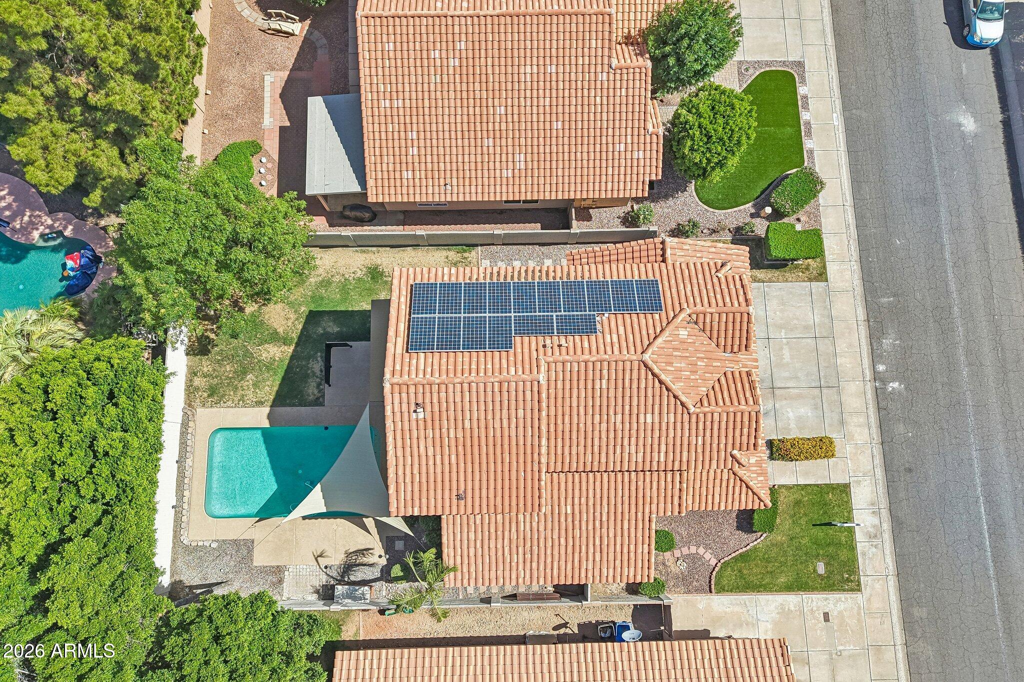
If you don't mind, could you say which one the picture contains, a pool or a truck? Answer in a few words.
pool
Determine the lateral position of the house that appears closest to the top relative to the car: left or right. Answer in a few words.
left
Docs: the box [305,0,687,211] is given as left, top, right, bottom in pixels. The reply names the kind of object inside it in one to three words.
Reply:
house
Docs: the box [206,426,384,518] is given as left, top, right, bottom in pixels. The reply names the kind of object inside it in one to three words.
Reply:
swimming pool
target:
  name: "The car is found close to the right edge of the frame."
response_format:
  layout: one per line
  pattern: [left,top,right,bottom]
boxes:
[956,0,1004,48]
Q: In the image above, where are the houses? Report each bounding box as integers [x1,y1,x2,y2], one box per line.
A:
[305,0,687,211]
[330,636,797,682]
[371,236,774,587]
